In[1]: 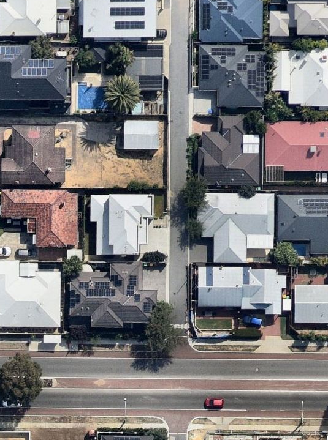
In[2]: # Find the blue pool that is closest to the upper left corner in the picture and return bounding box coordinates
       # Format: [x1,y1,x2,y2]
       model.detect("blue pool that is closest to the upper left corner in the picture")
[77,85,108,109]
